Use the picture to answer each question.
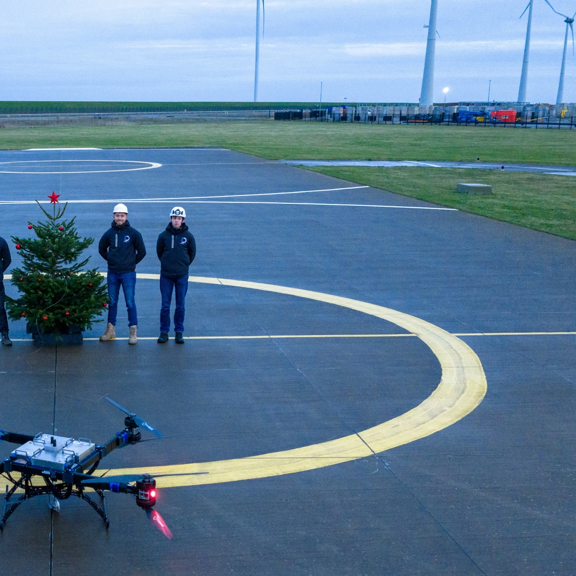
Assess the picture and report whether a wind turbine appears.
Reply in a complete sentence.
Yes, this view includes a wind turbine.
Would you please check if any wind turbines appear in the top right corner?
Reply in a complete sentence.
Yes, looking in the top right corner, one can make out a wind turbine.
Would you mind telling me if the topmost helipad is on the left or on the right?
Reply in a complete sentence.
The topmost helipad is on the left side of the image.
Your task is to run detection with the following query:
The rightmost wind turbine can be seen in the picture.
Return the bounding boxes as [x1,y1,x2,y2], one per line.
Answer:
[551,0,576,99]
